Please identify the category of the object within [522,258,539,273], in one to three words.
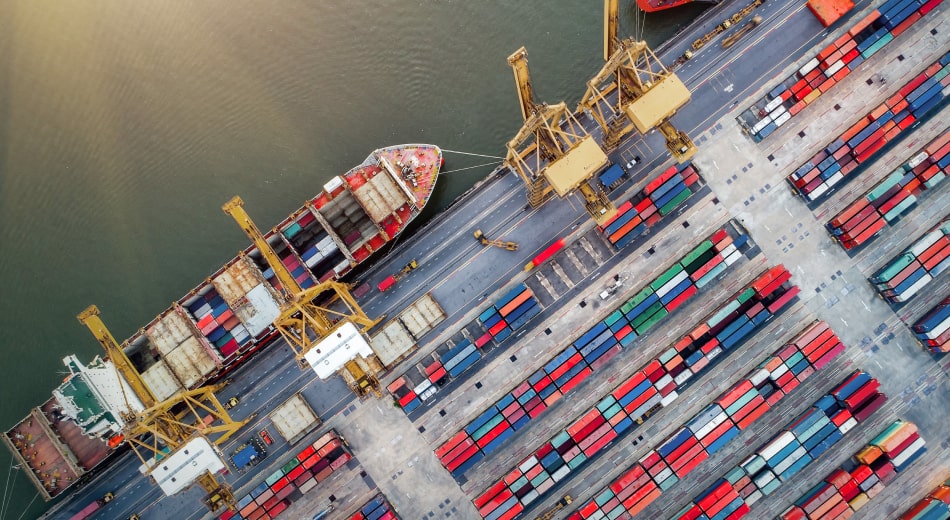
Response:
vehicle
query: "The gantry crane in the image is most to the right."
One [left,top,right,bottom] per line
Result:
[576,0,702,166]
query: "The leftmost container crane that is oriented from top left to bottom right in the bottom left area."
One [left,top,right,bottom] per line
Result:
[79,299,253,516]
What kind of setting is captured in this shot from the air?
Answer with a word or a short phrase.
port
